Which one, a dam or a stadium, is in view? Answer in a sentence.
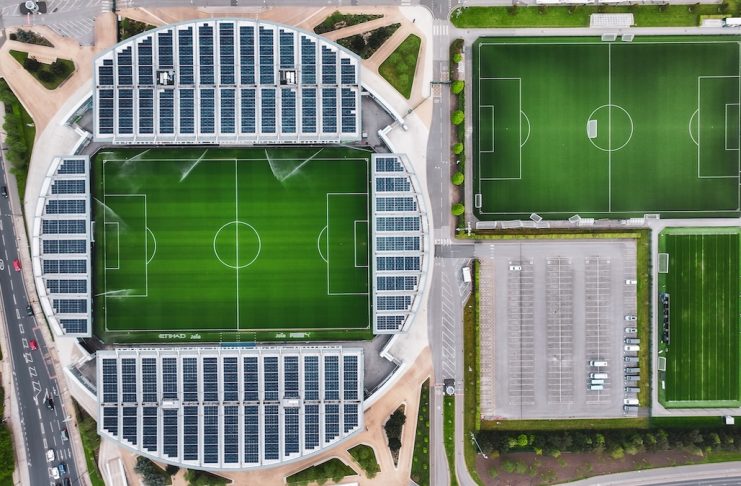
This aerial view contains a stadium.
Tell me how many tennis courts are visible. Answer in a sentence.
The count of tennis courts is 0.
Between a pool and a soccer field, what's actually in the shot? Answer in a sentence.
Of the two, only a soccer field appears.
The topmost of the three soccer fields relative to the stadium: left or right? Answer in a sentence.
Looking at the photo, the topmost of the three soccer fields lies to the right of the stadium.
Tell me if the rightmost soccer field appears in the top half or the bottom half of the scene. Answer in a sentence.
Seen from above, the rightmost soccer field lies in the bottom half of the view.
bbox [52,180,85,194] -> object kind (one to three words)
solar array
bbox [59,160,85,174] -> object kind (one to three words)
solar array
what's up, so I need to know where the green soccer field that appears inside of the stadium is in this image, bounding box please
[91,145,373,345]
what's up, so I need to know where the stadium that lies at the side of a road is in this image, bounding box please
[27,17,432,471]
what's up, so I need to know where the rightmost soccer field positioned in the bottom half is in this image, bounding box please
[659,226,741,409]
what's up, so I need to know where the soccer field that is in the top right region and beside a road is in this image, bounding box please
[473,36,741,220]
